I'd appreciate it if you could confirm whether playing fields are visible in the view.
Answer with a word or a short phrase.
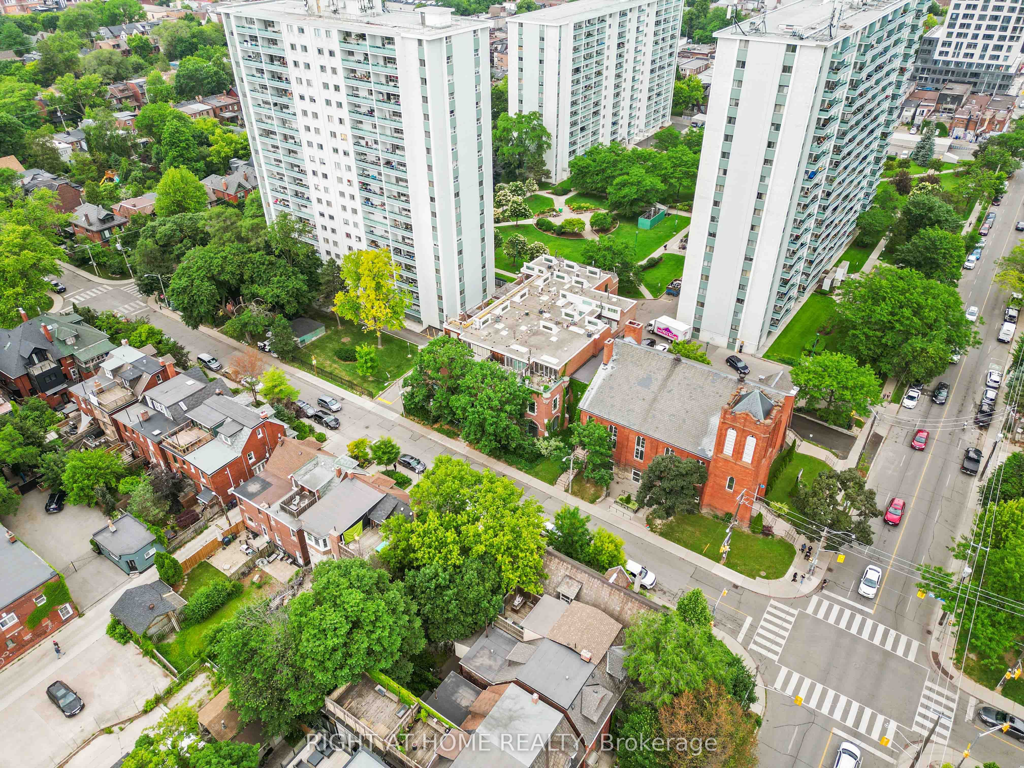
No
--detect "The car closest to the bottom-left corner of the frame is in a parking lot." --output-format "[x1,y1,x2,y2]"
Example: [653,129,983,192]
[45,679,86,720]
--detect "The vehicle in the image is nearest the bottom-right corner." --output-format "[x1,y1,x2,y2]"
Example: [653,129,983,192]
[973,701,1024,740]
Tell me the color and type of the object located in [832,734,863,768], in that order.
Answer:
white car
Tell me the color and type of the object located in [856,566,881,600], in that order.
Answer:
white car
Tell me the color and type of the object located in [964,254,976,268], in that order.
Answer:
white vehicle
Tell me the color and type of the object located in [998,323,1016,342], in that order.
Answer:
white vehicle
